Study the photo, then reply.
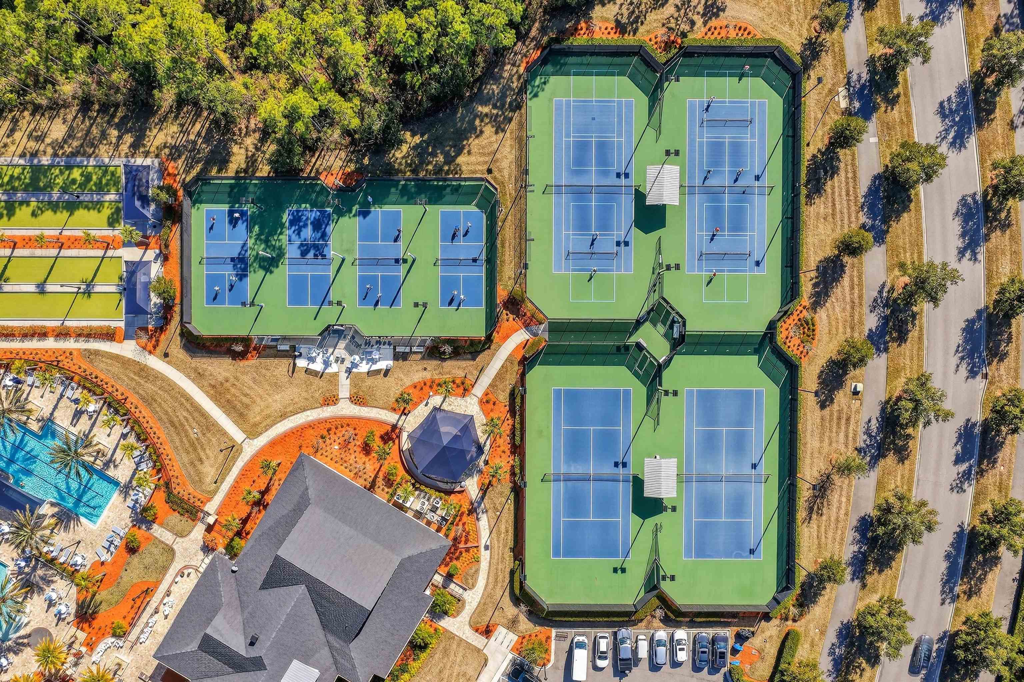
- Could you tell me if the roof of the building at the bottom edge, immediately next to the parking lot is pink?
No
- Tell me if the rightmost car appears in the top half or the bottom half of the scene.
bottom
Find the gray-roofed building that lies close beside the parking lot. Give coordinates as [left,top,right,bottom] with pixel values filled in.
[153,452,452,682]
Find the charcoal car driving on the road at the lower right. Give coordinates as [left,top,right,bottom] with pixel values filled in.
[908,636,931,674]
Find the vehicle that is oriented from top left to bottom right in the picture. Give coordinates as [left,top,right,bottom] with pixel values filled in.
[503,656,542,682]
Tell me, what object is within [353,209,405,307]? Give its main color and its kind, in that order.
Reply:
blue sports court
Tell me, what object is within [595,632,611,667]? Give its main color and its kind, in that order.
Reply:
white car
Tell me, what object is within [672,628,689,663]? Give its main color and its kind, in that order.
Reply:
white car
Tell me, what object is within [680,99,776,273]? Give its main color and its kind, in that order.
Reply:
blue tennis court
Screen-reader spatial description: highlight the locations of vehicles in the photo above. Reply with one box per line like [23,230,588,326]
[617,626,634,671]
[653,630,669,666]
[713,632,730,667]
[695,631,712,667]
[636,633,647,655]
[908,636,931,674]
[570,630,588,681]
[672,628,689,663]
[595,632,611,667]
[503,656,542,682]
